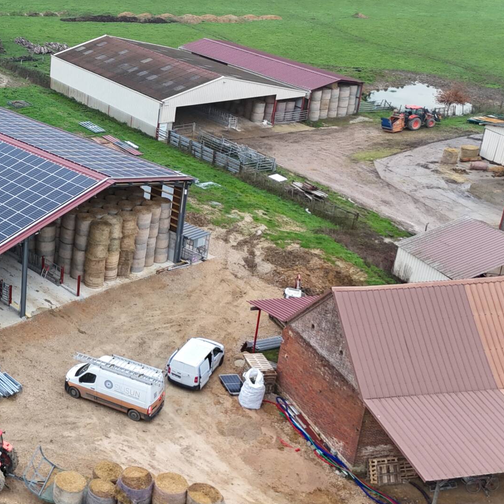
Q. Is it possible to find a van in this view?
Yes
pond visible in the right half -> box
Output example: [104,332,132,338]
[371,83,471,117]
